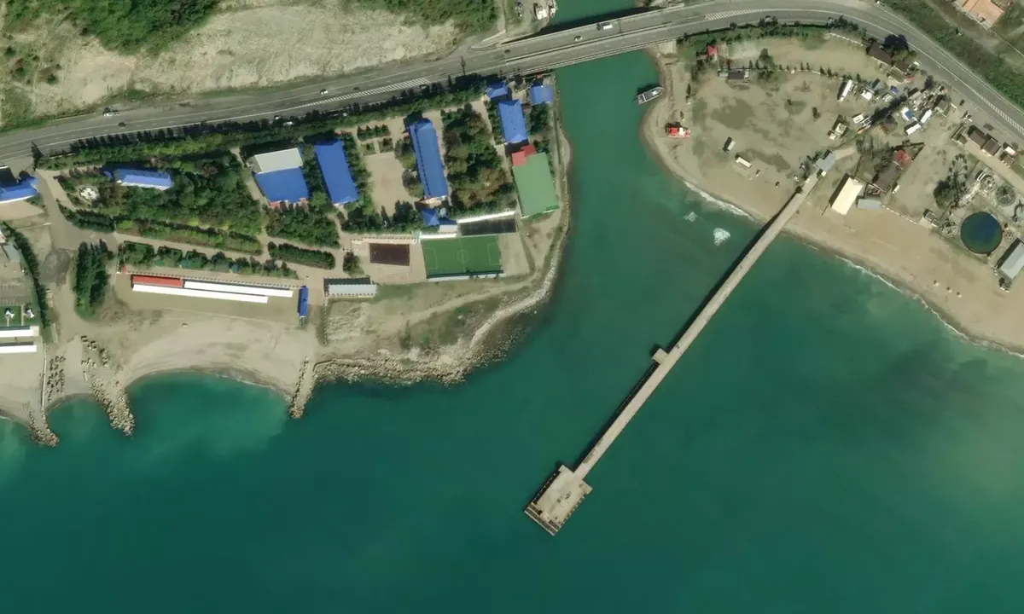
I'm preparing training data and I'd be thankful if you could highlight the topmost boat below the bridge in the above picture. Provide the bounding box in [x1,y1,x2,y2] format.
[638,88,661,103]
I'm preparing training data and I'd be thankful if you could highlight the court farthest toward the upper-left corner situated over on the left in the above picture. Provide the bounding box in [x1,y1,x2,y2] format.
[370,243,410,265]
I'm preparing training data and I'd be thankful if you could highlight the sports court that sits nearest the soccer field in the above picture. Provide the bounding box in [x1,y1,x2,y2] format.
[459,217,518,236]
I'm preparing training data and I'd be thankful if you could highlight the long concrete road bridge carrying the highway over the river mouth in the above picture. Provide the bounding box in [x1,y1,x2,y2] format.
[500,4,681,74]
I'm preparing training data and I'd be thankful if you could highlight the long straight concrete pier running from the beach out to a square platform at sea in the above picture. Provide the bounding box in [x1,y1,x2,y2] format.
[524,161,824,536]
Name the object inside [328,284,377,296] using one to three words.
building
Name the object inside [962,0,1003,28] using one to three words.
house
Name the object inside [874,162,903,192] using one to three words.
building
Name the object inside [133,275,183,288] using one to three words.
shed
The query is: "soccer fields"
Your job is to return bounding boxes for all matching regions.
[421,235,503,277]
